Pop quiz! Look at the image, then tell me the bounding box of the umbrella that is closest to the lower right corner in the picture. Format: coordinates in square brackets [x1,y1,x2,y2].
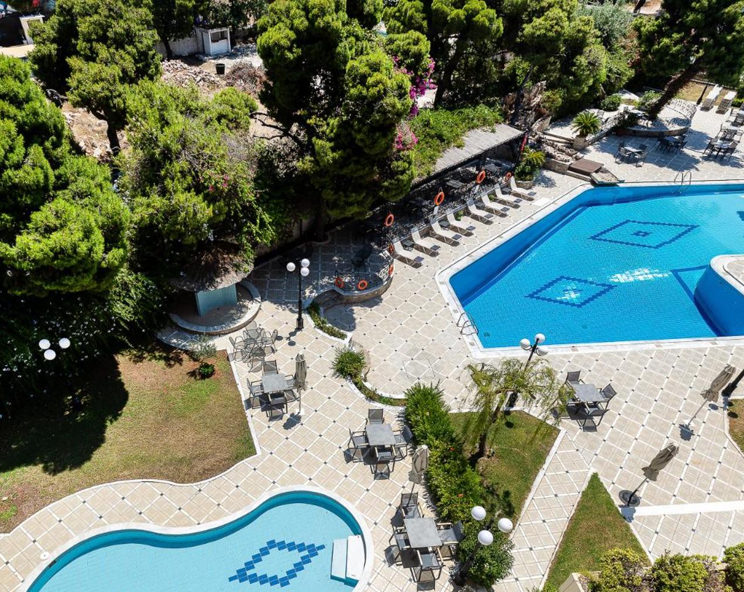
[617,444,676,512]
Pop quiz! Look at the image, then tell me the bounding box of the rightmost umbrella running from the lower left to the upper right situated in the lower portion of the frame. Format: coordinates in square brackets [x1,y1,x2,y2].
[680,370,740,432]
